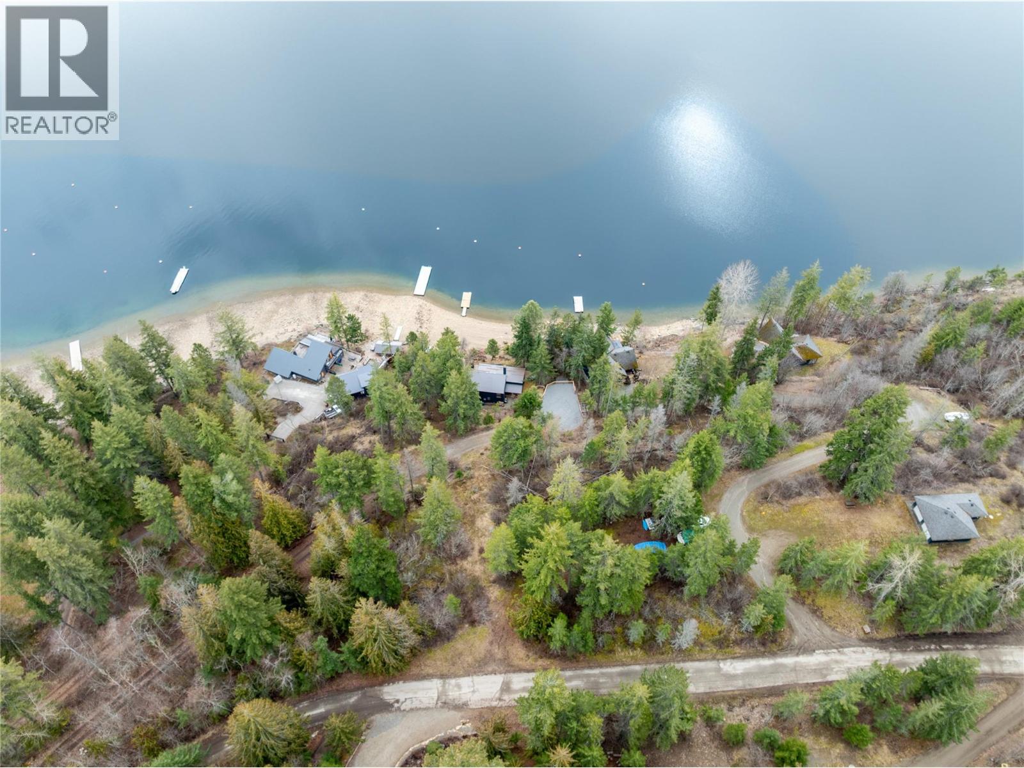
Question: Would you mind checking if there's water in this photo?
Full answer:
Yes, the picture does contain water.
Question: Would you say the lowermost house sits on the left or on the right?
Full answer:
It is on the right.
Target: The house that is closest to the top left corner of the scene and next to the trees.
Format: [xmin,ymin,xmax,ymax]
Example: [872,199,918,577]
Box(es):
[264,337,332,387]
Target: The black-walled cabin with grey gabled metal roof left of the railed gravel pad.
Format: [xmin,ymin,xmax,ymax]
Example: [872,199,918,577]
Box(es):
[472,364,525,406]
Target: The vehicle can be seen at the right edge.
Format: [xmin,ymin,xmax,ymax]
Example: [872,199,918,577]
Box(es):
[944,409,974,422]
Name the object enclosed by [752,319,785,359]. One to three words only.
house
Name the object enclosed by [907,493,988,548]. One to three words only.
house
